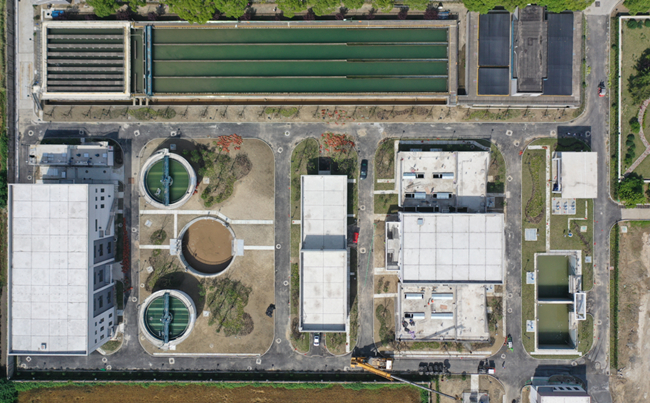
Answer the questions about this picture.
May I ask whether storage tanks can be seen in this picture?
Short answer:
Yes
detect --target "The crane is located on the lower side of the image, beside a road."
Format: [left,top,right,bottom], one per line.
[351,356,460,400]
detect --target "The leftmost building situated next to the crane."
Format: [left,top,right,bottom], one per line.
[299,162,348,332]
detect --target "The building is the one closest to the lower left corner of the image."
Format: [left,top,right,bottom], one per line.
[9,183,117,355]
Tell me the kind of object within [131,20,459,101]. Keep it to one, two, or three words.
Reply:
storage tank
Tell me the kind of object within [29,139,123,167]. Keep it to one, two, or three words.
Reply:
building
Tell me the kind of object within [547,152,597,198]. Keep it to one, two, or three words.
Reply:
building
